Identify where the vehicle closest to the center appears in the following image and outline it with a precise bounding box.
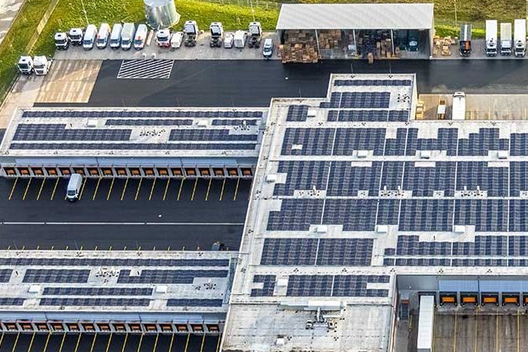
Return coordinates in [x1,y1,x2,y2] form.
[205,236,222,249]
